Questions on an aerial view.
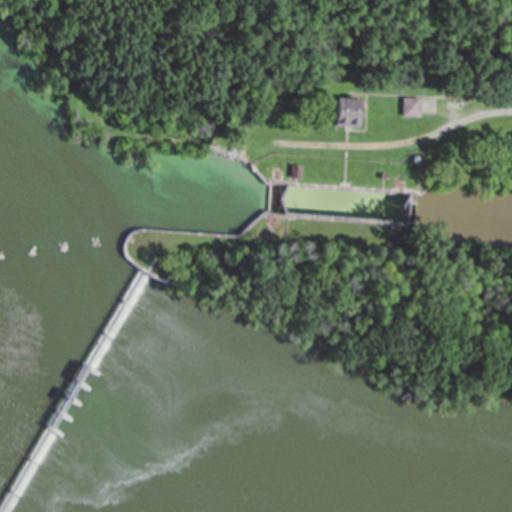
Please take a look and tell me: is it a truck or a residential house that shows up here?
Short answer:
residential house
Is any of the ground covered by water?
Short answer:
Yes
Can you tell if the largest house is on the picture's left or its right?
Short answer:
right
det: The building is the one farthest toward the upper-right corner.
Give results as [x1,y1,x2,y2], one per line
[404,96,422,117]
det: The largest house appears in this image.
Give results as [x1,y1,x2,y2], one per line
[340,97,366,130]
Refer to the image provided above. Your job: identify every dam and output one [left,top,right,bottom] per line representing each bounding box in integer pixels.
[0,266,153,512]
